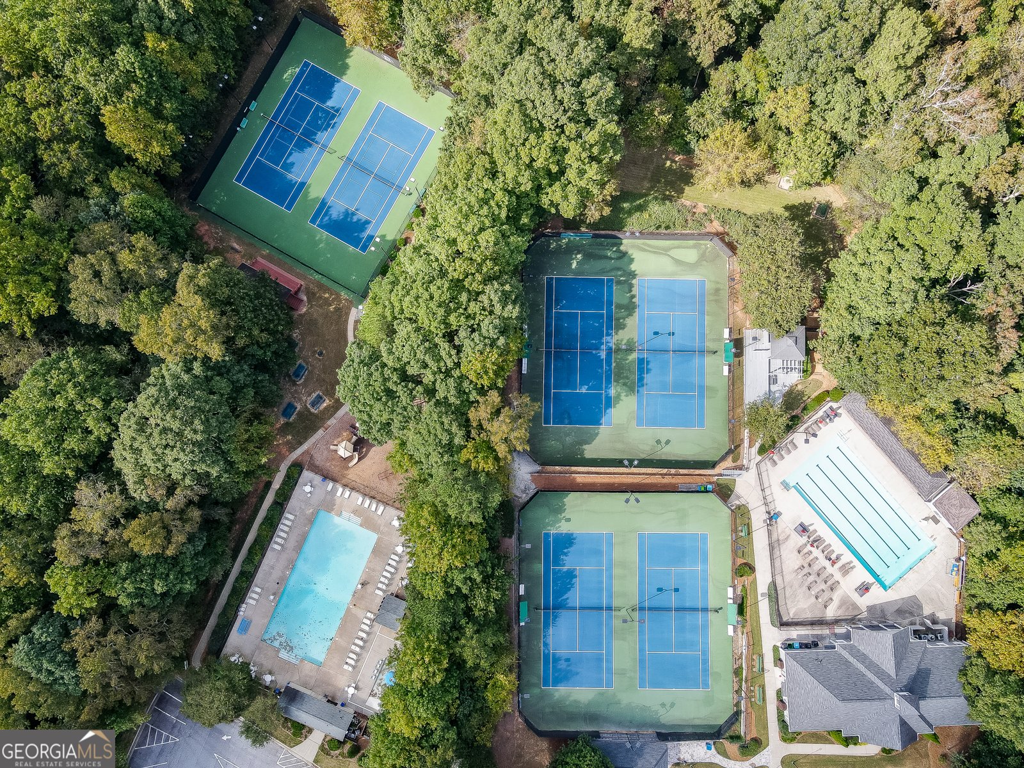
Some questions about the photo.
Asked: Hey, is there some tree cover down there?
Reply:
Yes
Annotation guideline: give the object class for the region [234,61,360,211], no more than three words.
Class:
tennis court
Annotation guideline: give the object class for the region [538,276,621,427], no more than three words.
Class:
tennis court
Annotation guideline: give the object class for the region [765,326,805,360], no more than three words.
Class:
building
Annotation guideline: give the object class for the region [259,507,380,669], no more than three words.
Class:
swimming pool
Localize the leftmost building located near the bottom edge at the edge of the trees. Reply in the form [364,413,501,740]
[276,678,356,742]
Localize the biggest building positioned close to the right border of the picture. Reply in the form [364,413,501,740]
[780,623,978,750]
